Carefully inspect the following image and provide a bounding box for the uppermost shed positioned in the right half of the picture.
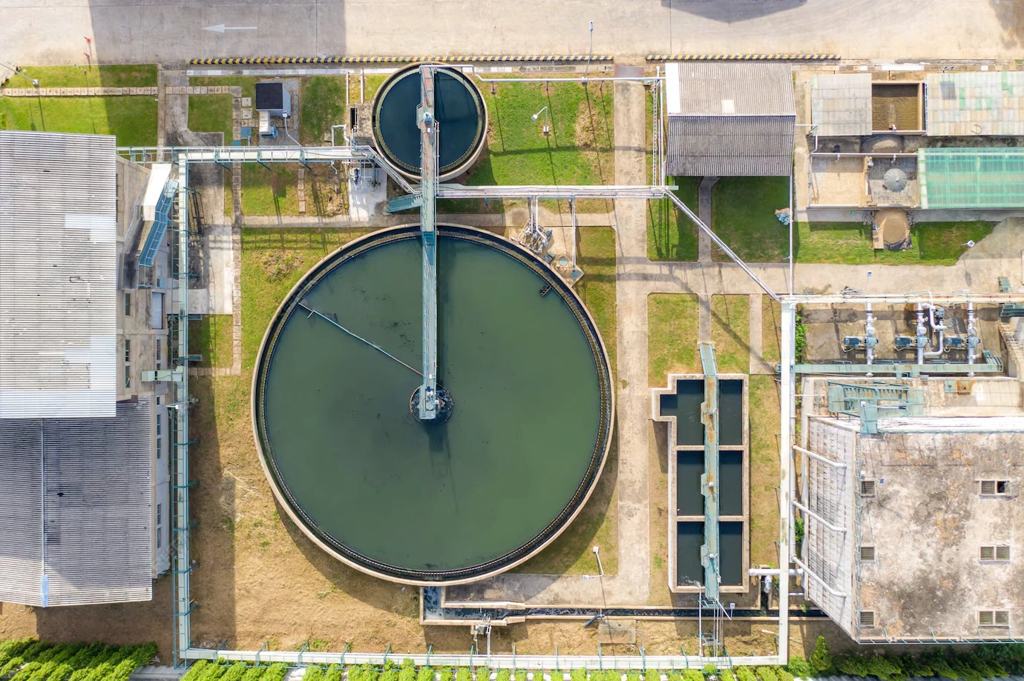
[657,62,798,182]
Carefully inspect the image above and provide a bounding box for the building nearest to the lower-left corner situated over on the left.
[0,396,171,608]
